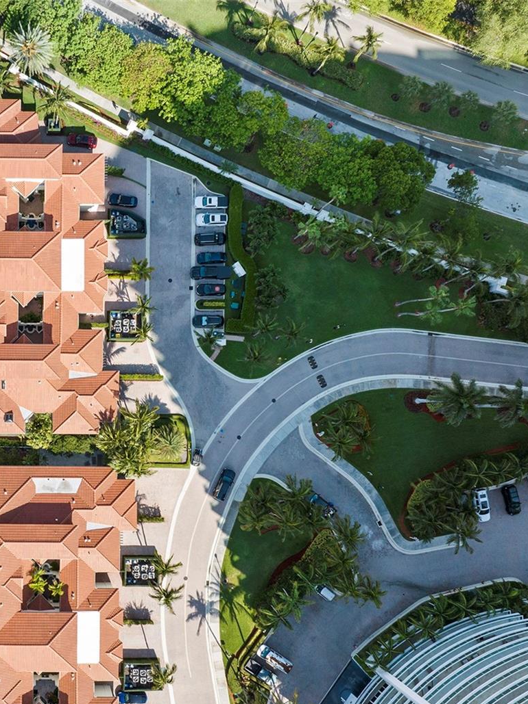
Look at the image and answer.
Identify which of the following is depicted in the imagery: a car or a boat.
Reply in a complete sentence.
The one in the frame is a car.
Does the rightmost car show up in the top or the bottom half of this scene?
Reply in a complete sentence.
The rightmost car sits in the bottom half of the picture.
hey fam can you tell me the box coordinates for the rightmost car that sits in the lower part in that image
[499,484,521,514]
